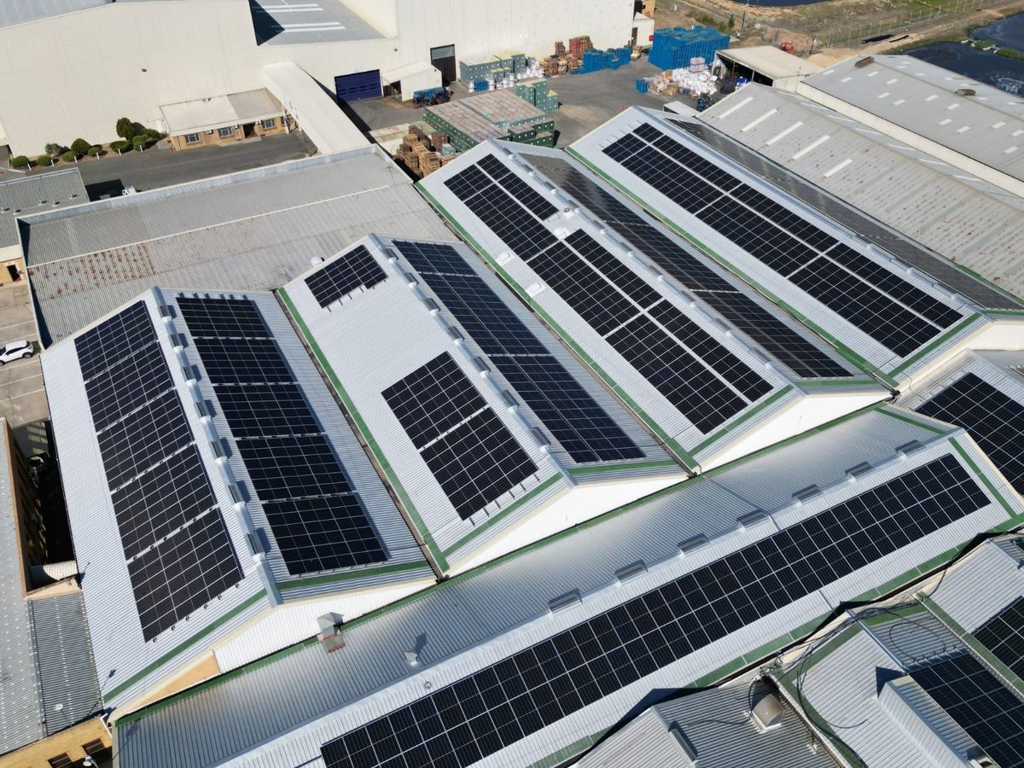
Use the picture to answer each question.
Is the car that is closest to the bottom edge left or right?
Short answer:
left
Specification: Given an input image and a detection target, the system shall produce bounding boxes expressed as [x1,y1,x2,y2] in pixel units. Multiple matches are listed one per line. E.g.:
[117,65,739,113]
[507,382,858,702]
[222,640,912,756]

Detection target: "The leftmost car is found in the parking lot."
[0,335,34,363]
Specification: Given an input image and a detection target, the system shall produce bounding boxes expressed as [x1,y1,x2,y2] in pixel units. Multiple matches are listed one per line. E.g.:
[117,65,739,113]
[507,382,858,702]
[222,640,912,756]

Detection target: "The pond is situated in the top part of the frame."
[887,11,1024,104]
